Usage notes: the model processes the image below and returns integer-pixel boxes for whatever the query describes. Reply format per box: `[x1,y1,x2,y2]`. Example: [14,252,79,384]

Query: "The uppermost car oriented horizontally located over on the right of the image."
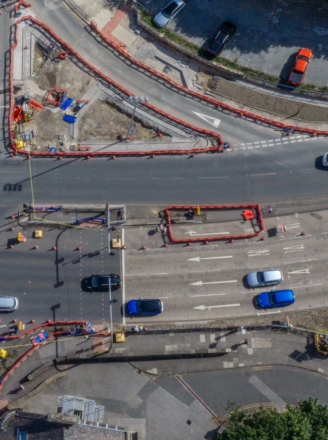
[246,270,284,288]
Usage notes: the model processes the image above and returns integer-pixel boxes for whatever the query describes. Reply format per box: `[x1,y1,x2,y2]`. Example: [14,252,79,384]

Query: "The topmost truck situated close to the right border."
[287,45,314,89]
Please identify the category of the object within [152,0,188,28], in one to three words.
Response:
car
